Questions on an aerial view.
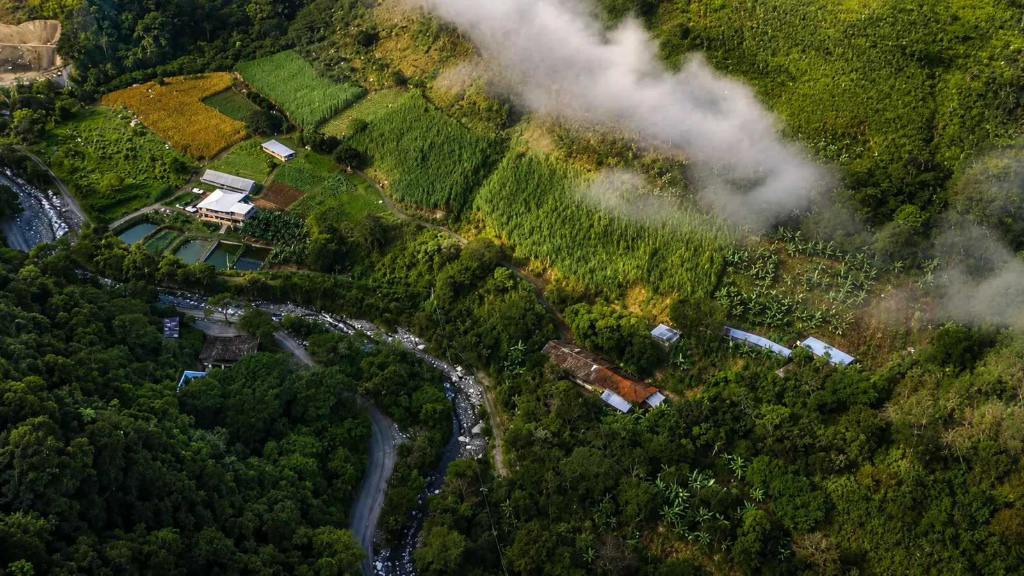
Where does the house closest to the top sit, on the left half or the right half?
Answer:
left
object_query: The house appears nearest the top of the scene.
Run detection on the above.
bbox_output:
[260,140,299,163]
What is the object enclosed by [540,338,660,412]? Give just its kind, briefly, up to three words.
house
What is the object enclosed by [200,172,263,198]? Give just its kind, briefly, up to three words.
shed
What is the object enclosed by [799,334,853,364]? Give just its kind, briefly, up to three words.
shed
